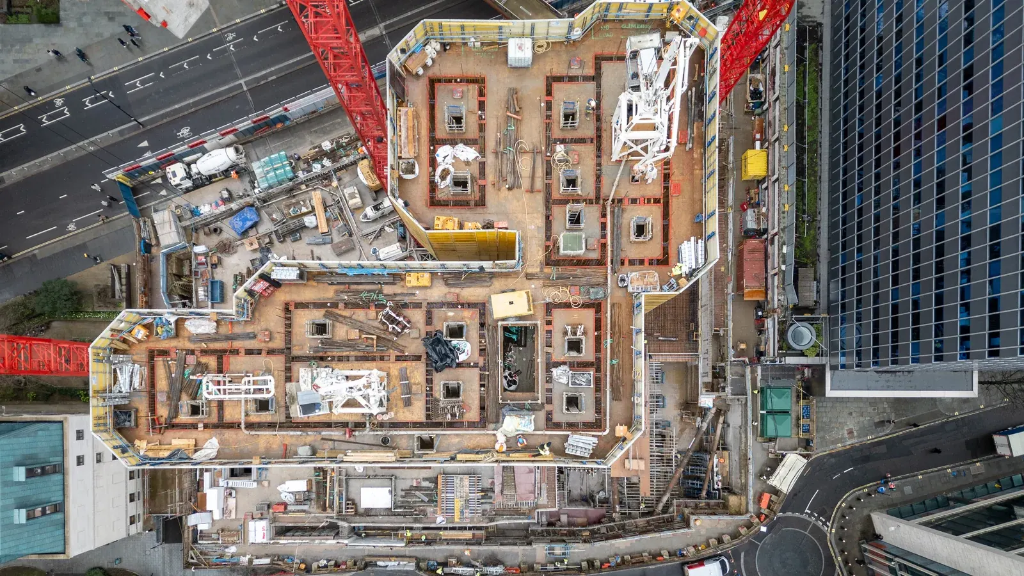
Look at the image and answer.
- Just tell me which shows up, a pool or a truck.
truck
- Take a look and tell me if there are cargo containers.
Yes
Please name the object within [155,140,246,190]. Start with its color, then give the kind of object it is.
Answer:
white truck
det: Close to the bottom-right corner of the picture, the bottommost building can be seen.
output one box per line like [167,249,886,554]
[860,473,1024,576]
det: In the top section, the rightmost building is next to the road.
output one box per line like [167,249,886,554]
[831,0,1024,371]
